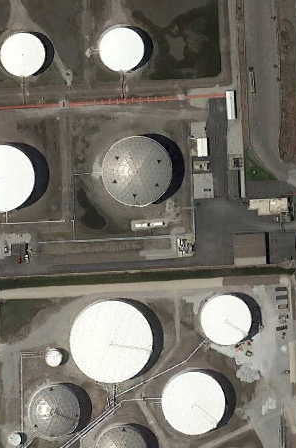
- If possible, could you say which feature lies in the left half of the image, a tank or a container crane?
tank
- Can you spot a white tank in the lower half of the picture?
Yes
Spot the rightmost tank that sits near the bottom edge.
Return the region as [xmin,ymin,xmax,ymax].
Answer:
[159,367,226,436]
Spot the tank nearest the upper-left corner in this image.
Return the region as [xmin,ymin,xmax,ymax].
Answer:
[0,29,46,77]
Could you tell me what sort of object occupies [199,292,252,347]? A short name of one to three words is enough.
storage tank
